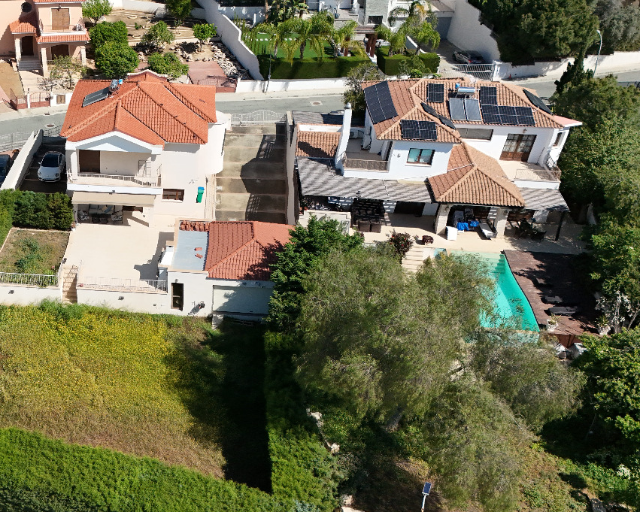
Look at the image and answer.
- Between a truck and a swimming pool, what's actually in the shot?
swimming pool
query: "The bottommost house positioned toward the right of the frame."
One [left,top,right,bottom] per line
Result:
[292,79,585,241]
